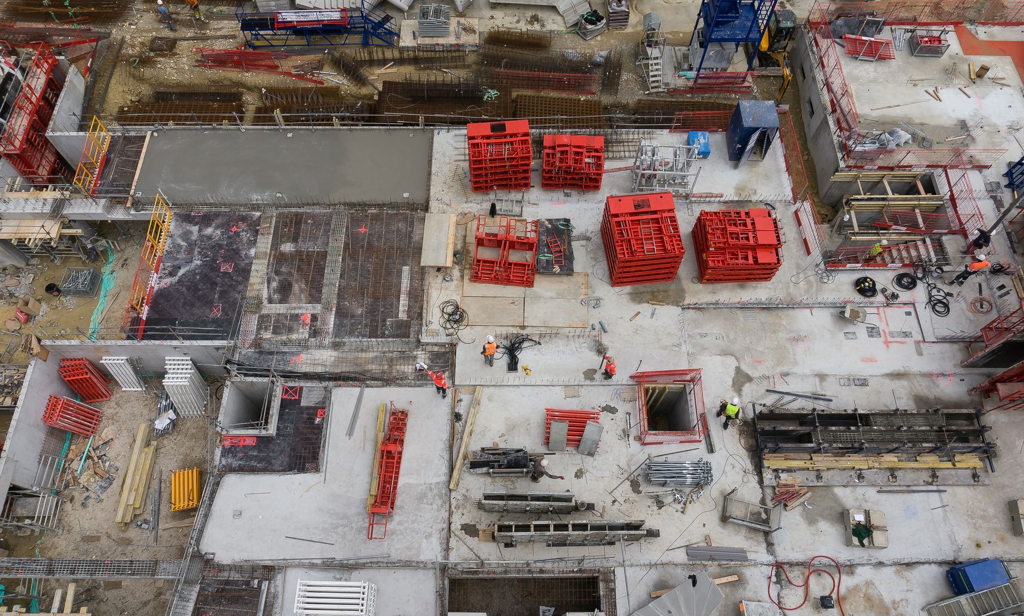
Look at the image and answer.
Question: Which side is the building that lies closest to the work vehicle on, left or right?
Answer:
right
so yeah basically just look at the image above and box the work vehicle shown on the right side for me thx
[753,8,798,99]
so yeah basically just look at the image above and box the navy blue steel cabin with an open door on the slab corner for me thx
[723,100,784,180]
